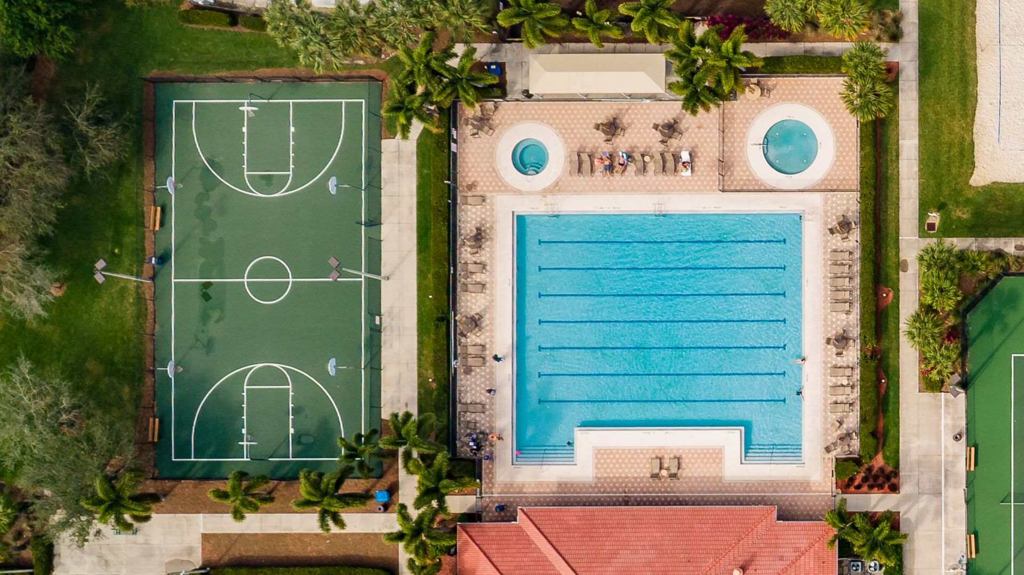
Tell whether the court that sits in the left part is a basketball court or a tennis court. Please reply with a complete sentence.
I'd identify the court that sits in the left part as a basketball court.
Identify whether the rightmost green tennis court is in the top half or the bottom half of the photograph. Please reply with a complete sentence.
You can find the rightmost green tennis court in the bottom half.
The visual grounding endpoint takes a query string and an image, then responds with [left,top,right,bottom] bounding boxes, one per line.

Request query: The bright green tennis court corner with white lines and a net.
[968,277,1024,575]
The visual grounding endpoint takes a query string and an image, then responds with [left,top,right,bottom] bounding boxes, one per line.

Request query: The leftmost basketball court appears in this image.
[154,81,382,479]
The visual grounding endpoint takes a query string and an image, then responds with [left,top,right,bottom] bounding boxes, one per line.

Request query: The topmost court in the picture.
[970,0,1024,186]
